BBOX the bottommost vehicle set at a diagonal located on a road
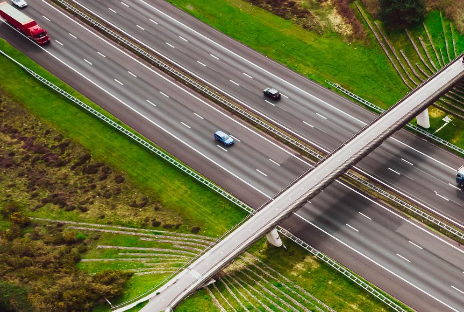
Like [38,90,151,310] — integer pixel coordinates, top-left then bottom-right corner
[215,129,235,146]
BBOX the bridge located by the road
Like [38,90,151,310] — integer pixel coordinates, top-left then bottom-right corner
[109,50,464,312]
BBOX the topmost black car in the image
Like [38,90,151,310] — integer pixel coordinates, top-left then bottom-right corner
[263,89,281,101]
